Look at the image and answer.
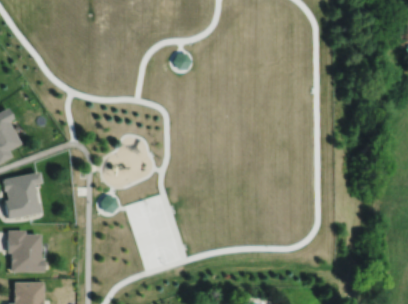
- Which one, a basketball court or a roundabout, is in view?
basketball court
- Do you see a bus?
No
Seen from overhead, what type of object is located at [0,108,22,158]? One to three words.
house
